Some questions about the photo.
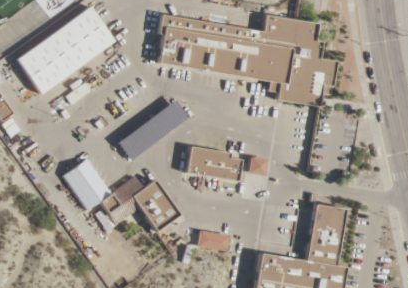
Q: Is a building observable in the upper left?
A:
Yes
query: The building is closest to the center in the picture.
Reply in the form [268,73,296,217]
[186,148,244,181]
